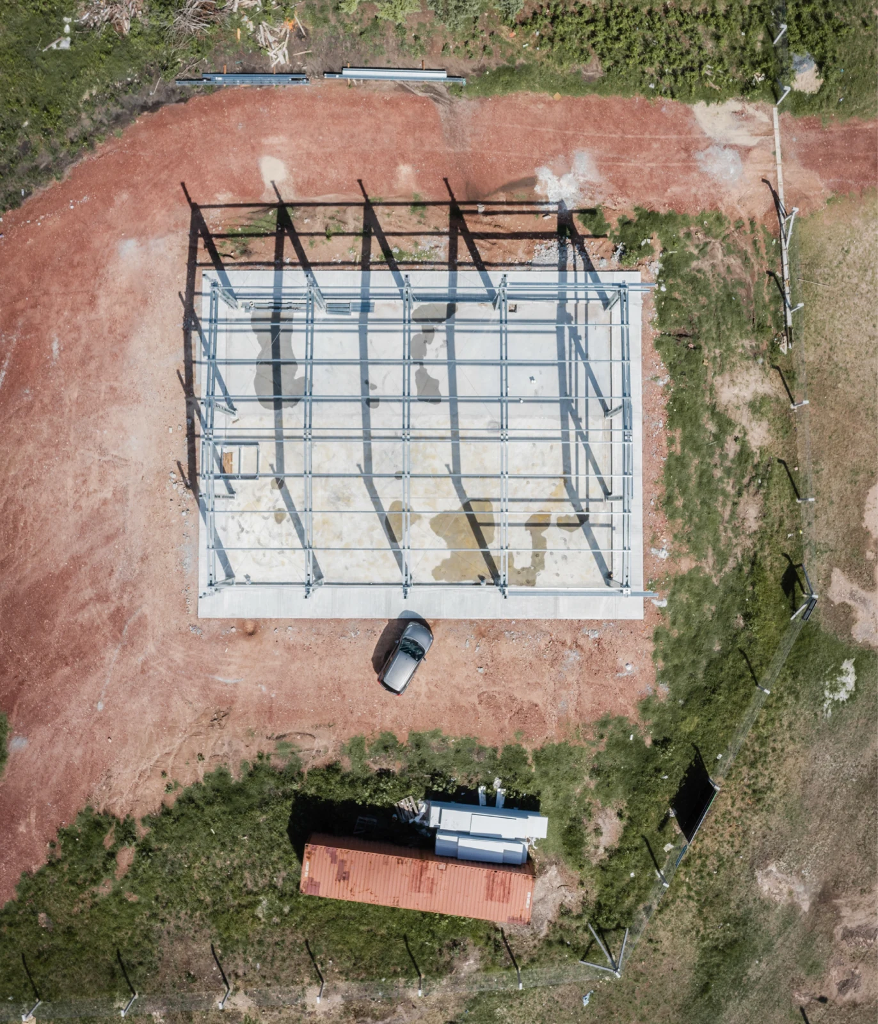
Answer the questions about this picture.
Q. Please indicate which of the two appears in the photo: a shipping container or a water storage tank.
shipping container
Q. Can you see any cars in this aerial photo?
Yes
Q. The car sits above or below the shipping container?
above it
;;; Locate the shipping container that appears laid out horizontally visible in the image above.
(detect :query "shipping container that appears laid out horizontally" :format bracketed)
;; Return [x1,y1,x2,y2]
[300,829,535,925]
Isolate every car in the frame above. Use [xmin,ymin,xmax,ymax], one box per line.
[377,620,431,695]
